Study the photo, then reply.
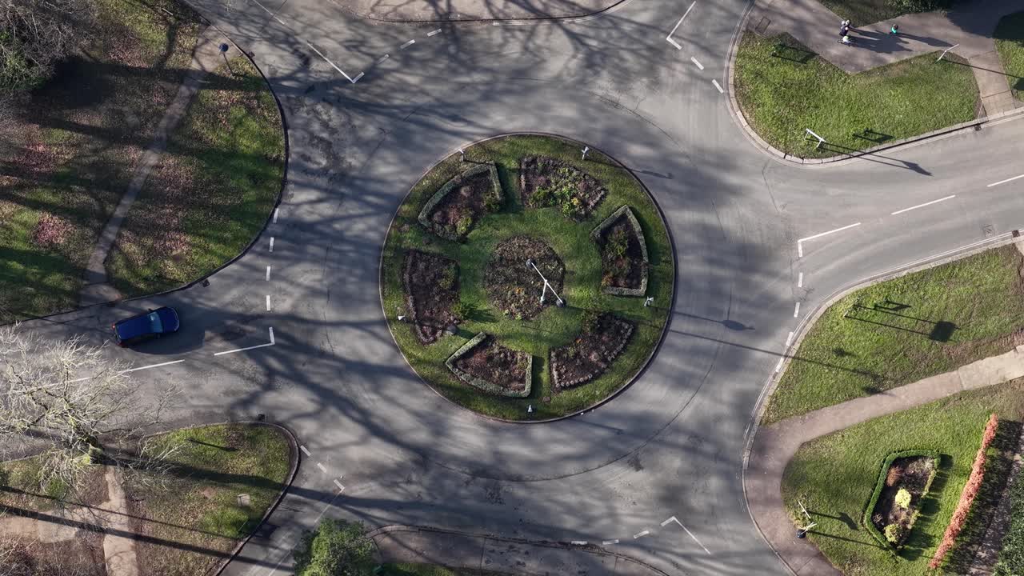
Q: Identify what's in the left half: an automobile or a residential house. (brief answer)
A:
automobile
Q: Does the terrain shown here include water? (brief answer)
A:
No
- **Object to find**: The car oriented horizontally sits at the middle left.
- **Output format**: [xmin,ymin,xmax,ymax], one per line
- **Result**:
[114,309,182,347]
